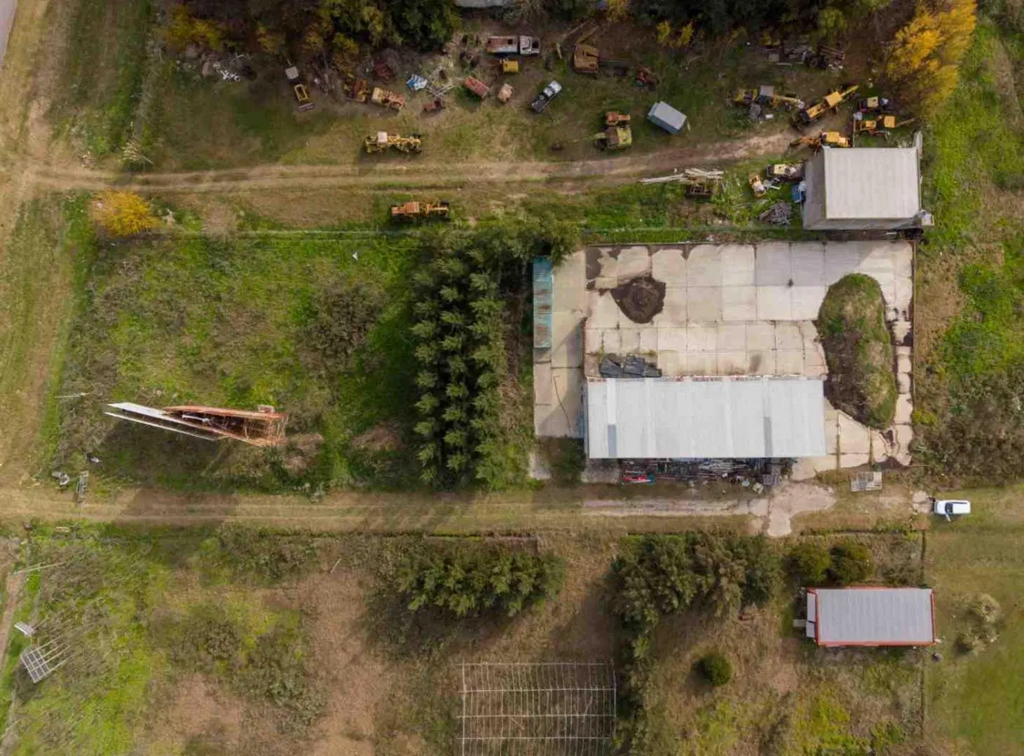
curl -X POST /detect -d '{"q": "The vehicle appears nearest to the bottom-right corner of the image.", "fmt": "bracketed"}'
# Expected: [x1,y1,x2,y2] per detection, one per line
[936,503,975,524]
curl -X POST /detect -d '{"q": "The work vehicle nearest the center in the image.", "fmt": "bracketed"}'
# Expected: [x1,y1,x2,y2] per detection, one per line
[391,200,449,220]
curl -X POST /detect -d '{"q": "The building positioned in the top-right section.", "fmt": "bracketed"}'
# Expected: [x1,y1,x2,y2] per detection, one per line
[806,146,920,229]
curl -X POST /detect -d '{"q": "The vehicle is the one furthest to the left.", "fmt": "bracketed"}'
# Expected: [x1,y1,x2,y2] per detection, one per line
[292,81,315,112]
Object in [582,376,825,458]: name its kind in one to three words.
shed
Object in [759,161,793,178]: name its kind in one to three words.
work vehicle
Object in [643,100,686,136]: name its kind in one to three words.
trailer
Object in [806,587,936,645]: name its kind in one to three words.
building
